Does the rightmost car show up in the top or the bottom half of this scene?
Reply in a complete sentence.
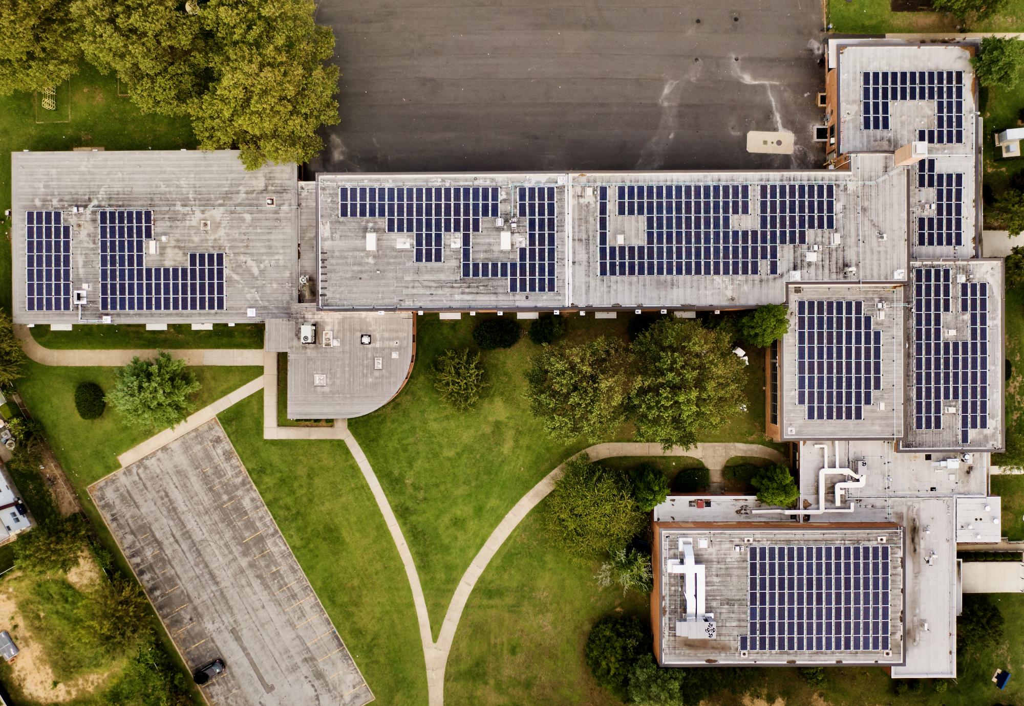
It is in the bottom half that the rightmost car appears.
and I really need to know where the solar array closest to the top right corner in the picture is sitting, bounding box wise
[860,71,966,145]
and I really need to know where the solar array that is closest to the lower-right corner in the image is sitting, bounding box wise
[737,546,892,652]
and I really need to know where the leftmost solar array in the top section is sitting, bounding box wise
[24,211,74,311]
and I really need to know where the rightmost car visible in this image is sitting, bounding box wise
[193,657,227,684]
